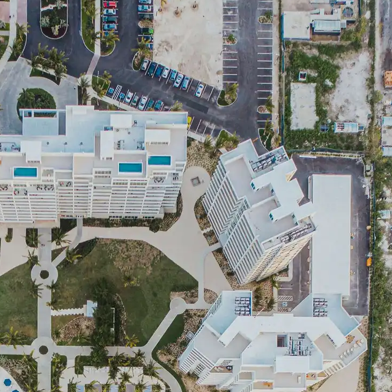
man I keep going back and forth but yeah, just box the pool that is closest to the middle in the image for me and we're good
[146,155,173,167]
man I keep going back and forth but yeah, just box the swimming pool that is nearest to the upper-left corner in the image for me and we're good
[12,166,39,179]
